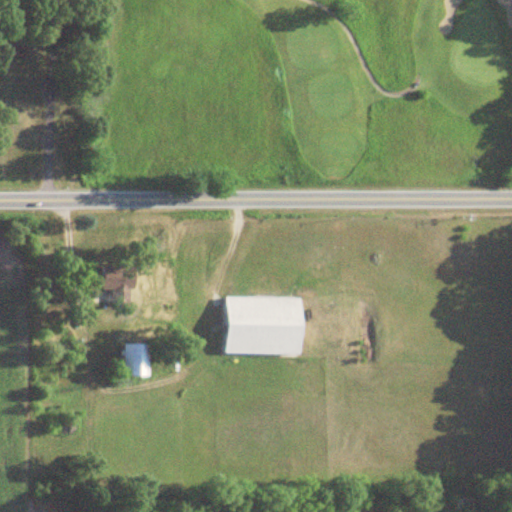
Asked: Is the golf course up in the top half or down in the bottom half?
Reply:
top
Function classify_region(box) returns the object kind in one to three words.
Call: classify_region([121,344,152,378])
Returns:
shed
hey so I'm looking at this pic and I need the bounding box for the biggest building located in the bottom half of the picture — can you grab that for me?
[224,296,305,357]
